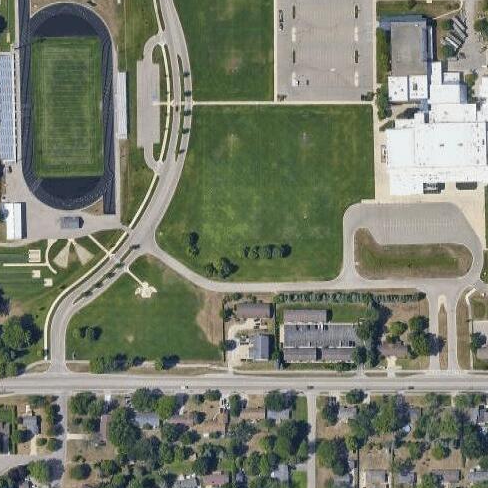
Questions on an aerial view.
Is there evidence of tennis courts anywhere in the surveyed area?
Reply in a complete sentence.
No, there isn't any tennis court down there.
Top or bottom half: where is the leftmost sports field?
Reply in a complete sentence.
It is in the top half that the leftmost sports field appears.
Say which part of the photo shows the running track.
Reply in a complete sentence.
The running track appears toward the top left of the photo.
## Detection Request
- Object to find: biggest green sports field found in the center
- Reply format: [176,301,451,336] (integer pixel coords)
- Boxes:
[154,105,373,282]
